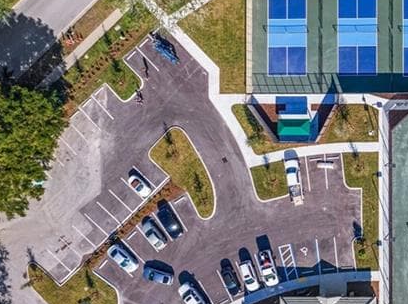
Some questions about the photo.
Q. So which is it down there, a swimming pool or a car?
car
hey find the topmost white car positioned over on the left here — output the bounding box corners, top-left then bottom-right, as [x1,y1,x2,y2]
[127,173,153,199]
